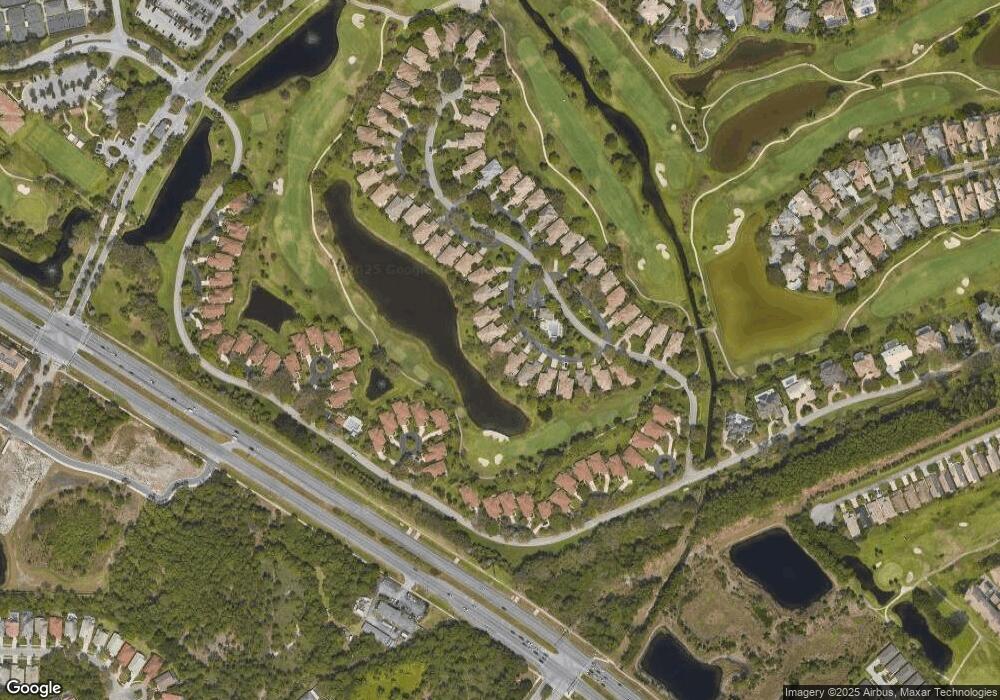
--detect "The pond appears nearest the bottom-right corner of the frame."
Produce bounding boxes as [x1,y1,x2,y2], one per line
[894,602,952,671]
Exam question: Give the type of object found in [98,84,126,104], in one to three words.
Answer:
building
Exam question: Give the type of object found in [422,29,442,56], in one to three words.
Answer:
house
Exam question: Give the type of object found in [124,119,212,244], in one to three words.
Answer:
pond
